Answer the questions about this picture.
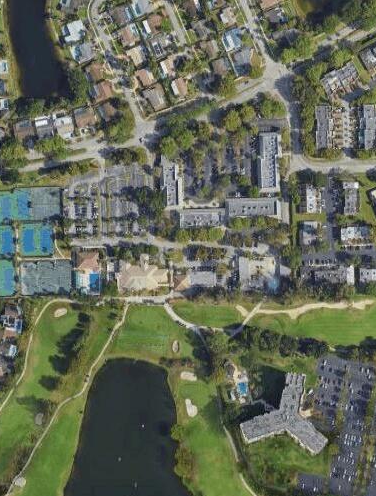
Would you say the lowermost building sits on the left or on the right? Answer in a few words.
right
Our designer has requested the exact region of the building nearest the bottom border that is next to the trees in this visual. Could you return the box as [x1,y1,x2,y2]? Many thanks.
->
[239,372,331,457]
